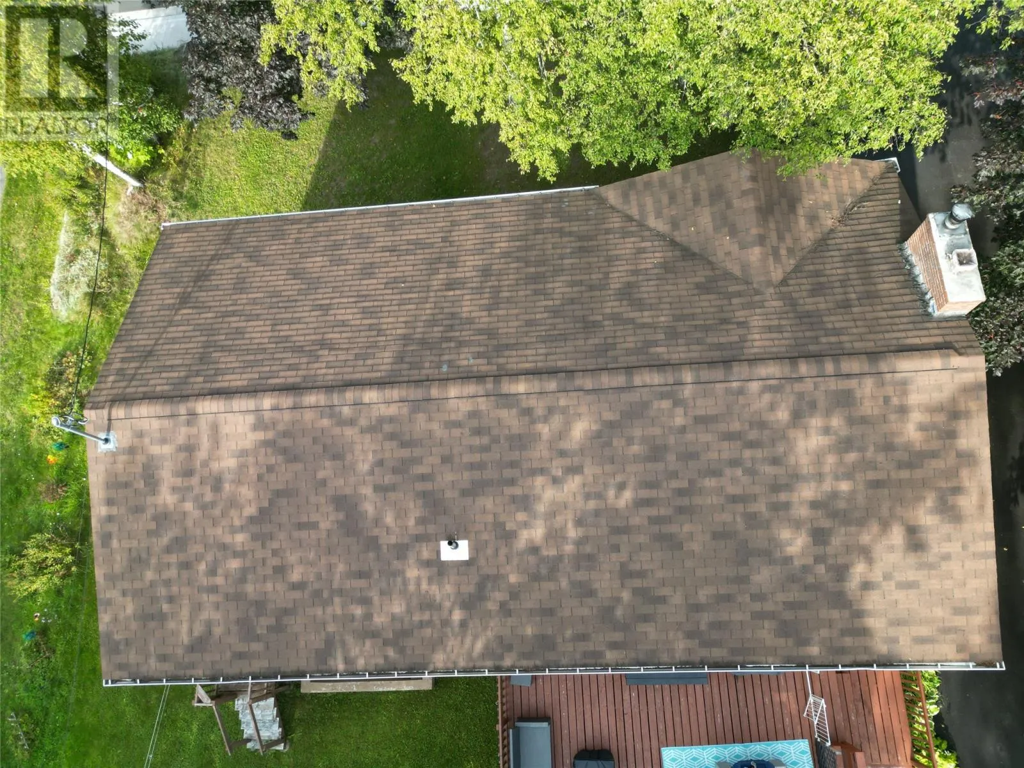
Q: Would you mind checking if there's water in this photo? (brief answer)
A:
No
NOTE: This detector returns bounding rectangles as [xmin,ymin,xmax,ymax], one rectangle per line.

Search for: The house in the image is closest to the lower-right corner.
[56,140,1005,687]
